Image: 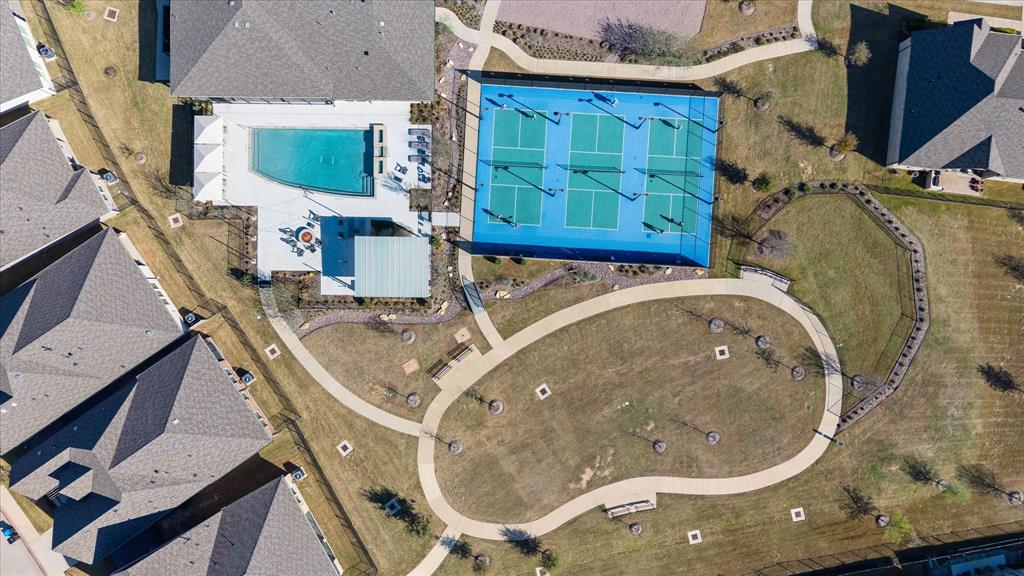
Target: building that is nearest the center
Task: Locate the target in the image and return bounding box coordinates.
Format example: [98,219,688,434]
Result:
[349,234,429,297]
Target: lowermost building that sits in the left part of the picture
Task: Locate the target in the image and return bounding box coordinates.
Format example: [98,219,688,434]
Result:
[108,471,348,576]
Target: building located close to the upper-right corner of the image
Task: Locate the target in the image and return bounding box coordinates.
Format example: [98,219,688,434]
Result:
[888,19,1024,181]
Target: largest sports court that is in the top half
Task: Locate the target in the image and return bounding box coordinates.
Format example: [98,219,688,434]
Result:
[471,84,719,266]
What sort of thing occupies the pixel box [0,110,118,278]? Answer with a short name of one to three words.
house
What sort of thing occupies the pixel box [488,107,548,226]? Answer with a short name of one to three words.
sports court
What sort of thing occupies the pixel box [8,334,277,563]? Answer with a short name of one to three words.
house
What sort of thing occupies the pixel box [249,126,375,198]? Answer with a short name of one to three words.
swimming pool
